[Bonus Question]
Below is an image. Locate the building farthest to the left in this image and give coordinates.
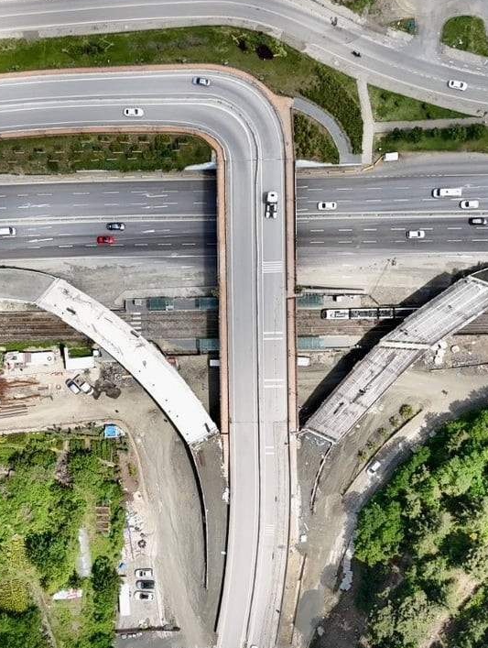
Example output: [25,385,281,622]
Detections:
[6,351,55,366]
